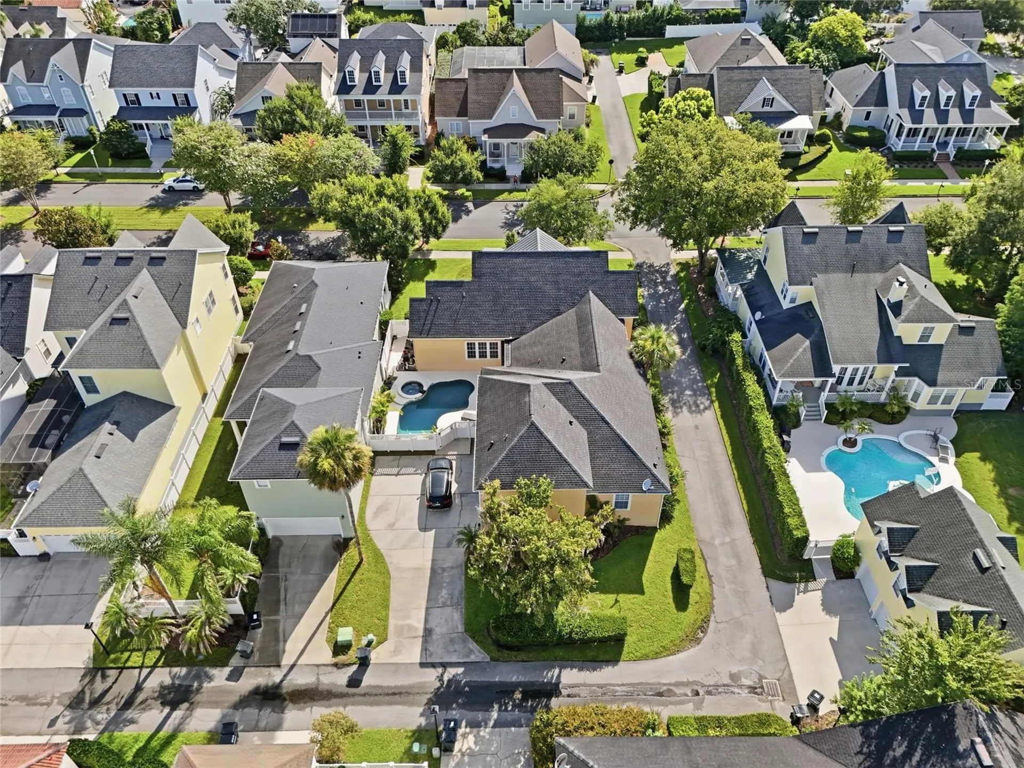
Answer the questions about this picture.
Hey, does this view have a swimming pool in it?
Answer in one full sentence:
Yes, the frame does contain a swimming pool.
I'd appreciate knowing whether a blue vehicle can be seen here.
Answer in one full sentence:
No, no blue vehicle is visible in the view.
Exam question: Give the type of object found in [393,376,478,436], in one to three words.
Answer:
swimming pool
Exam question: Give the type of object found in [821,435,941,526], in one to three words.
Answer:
swimming pool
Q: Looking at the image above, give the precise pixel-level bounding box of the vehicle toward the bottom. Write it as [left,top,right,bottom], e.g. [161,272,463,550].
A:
[424,455,457,509]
